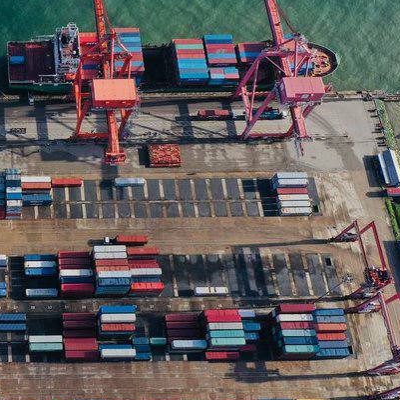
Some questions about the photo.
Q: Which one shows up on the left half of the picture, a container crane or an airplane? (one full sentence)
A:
There is a container crane on the left half of the picture.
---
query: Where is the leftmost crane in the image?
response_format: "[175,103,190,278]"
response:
[68,0,151,161]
